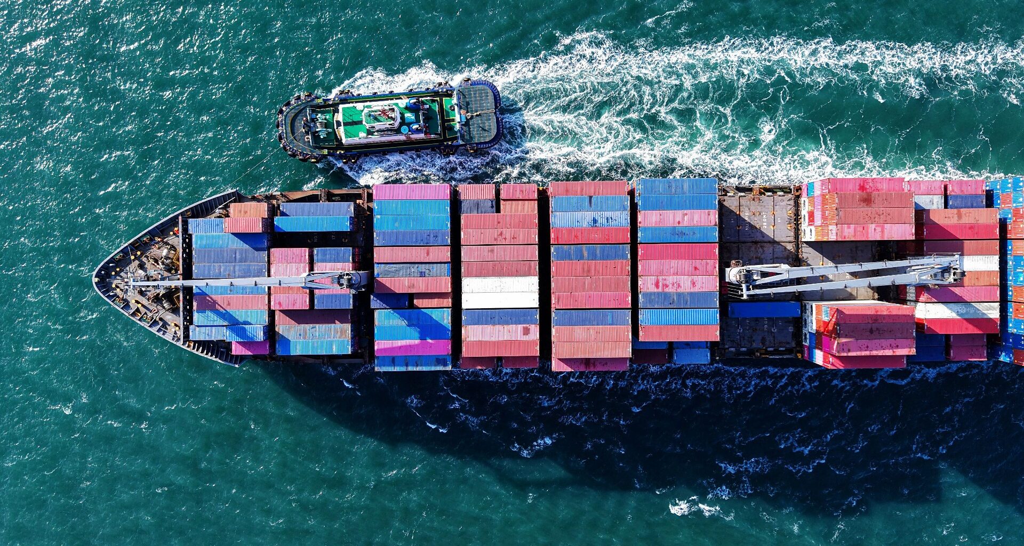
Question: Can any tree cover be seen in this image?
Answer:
No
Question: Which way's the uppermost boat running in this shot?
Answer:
from side to side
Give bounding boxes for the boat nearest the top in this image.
[277,78,506,164]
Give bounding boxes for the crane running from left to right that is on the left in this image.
[129,268,377,297]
